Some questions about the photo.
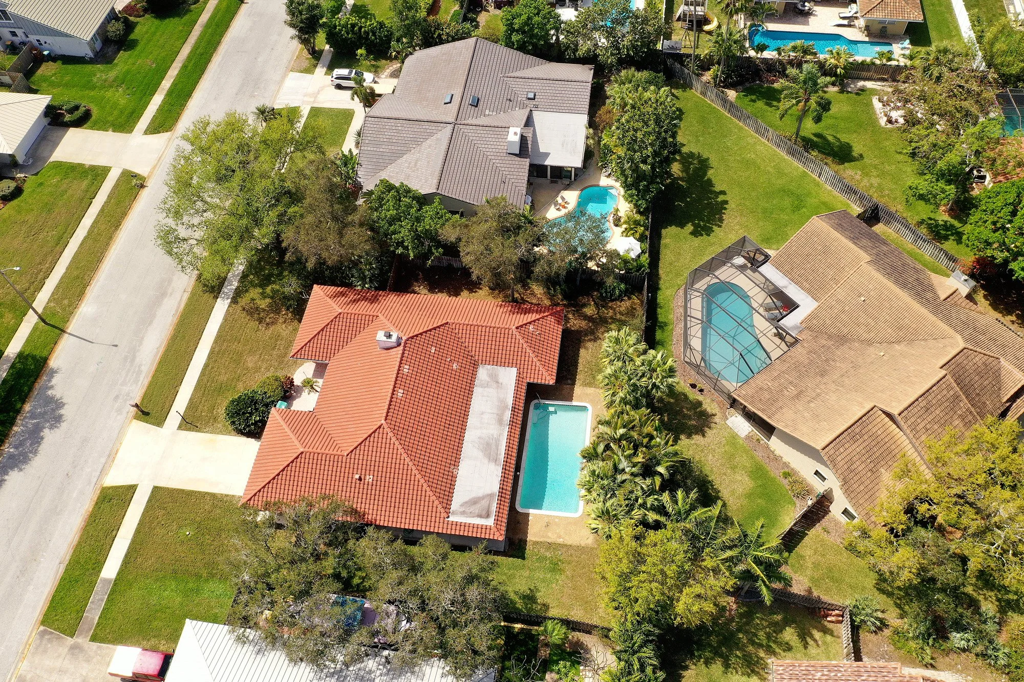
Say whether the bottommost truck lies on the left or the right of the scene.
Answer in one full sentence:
The bottommost truck is on the left side of the image.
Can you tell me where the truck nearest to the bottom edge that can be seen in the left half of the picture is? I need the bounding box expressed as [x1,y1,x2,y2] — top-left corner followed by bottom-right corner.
[105,646,175,682]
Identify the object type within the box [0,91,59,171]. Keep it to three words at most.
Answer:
house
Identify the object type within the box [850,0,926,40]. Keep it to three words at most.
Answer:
building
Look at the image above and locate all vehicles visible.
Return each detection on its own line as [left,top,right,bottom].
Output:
[105,646,175,682]
[327,69,376,93]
